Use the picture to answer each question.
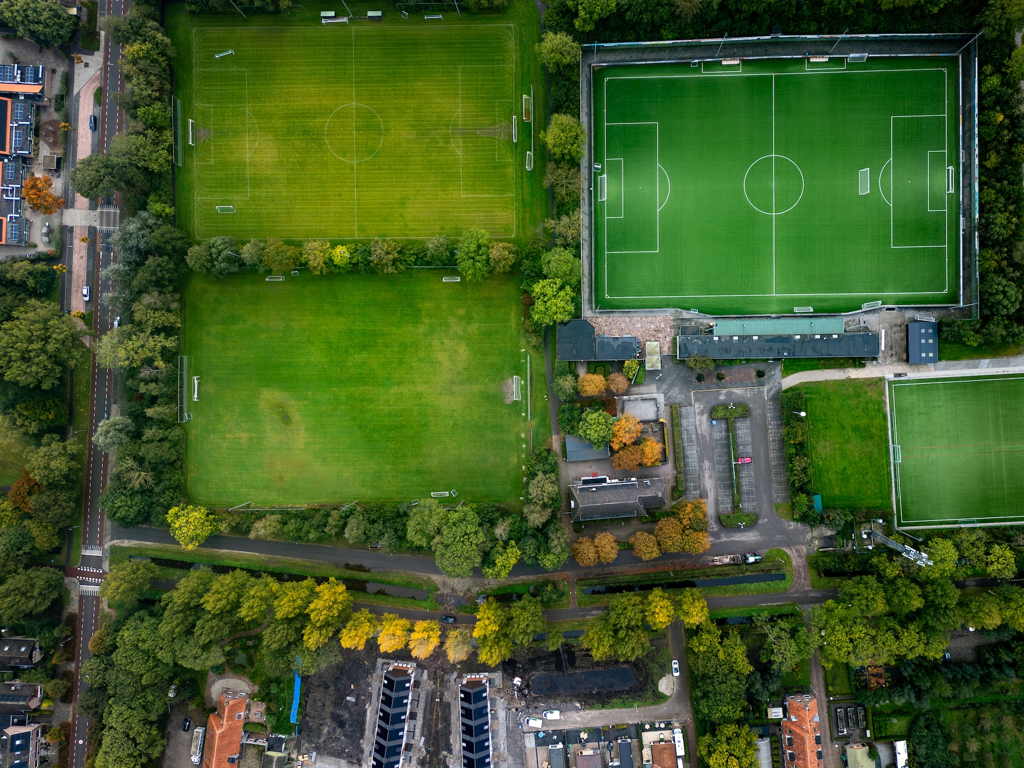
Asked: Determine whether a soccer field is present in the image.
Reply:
Yes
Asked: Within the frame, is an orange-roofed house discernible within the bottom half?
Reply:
Yes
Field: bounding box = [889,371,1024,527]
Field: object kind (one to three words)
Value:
sports field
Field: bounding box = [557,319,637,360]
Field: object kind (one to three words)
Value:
building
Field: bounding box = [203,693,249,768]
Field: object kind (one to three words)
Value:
house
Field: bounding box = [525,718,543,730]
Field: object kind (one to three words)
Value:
vehicle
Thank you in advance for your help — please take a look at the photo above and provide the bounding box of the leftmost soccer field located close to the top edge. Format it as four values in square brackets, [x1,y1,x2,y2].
[165,0,546,245]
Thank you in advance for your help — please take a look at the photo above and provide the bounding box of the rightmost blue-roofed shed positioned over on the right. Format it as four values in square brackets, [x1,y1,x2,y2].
[903,322,938,363]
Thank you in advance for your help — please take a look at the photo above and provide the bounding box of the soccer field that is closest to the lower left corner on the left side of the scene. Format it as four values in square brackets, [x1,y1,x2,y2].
[183,267,553,512]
